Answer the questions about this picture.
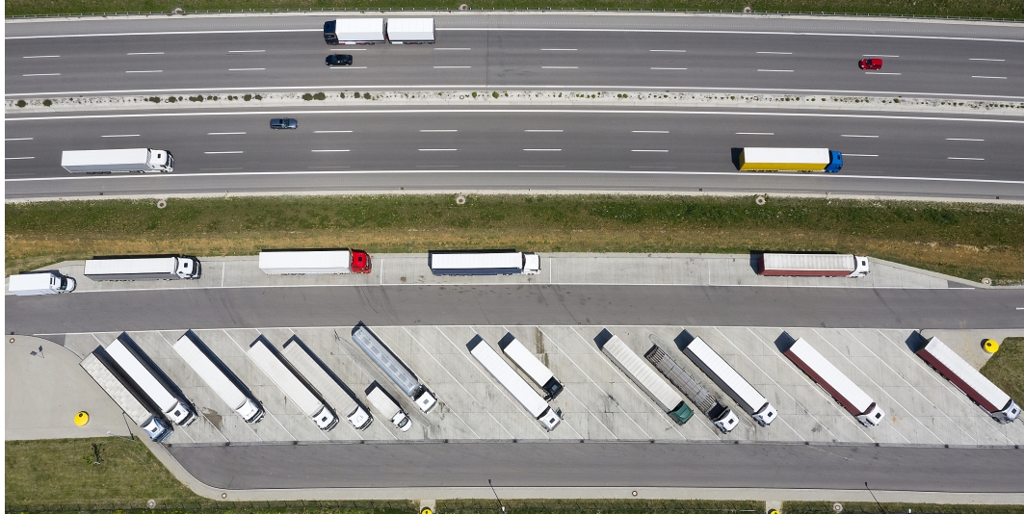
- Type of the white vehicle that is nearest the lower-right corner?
truck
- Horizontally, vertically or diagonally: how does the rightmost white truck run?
diagonally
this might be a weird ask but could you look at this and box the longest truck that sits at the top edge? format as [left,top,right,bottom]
[322,17,435,44]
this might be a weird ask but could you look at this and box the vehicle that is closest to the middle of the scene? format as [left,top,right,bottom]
[433,252,540,275]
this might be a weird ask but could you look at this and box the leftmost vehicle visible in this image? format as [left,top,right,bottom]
[9,274,76,295]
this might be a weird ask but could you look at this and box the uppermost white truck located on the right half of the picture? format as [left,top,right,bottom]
[738,147,844,172]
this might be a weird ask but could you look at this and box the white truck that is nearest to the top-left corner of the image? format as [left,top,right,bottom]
[61,148,174,174]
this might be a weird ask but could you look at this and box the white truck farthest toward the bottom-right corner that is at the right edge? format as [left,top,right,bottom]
[916,336,1020,425]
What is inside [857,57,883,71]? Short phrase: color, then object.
red car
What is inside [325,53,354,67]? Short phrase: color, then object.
black car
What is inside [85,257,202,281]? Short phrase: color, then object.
white truck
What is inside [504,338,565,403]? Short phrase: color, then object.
white truck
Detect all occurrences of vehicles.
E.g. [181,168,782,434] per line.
[857,57,883,71]
[173,335,266,425]
[602,335,695,427]
[738,147,844,172]
[80,352,172,442]
[433,252,540,275]
[61,148,174,174]
[366,386,413,432]
[282,341,374,433]
[759,253,869,276]
[504,338,565,403]
[259,251,372,274]
[106,339,198,429]
[683,336,777,427]
[322,17,435,44]
[9,274,76,295]
[248,341,341,432]
[269,117,300,131]
[916,336,1020,425]
[354,329,436,411]
[471,340,561,433]
[784,338,883,427]
[325,53,354,67]
[85,257,202,281]
[647,348,740,435]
